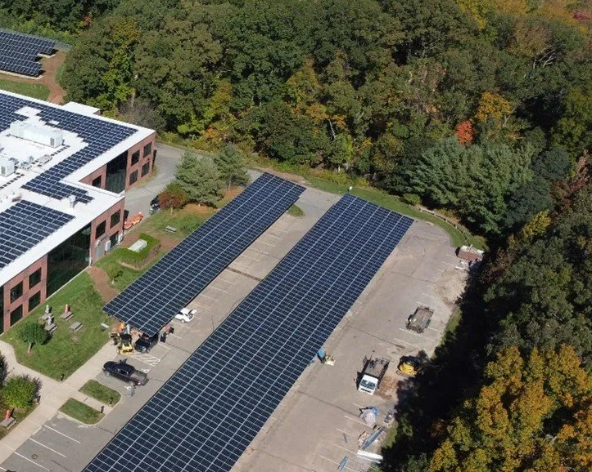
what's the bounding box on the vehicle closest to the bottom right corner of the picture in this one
[398,355,436,376]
